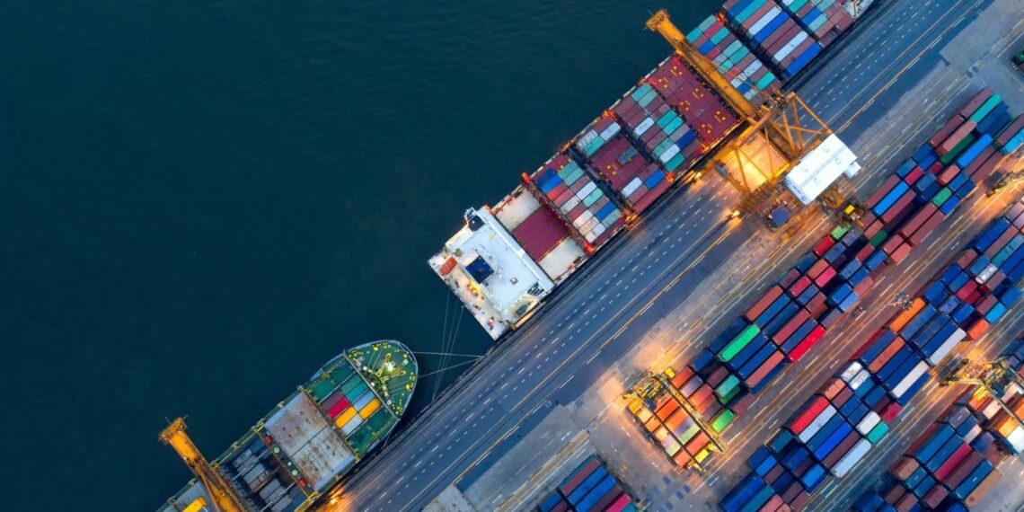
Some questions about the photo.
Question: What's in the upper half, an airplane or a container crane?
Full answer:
The feature located in the upper half is a container crane.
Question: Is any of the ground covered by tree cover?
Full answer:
No, no tree cover is visible.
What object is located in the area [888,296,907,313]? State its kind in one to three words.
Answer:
vehicle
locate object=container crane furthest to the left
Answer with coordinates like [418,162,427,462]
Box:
[144,416,247,512]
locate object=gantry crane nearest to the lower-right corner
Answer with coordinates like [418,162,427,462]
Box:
[946,359,1024,429]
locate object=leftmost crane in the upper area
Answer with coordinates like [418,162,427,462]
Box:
[640,3,862,217]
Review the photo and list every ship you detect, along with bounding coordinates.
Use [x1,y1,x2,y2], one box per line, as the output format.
[431,0,869,337]
[158,341,418,512]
